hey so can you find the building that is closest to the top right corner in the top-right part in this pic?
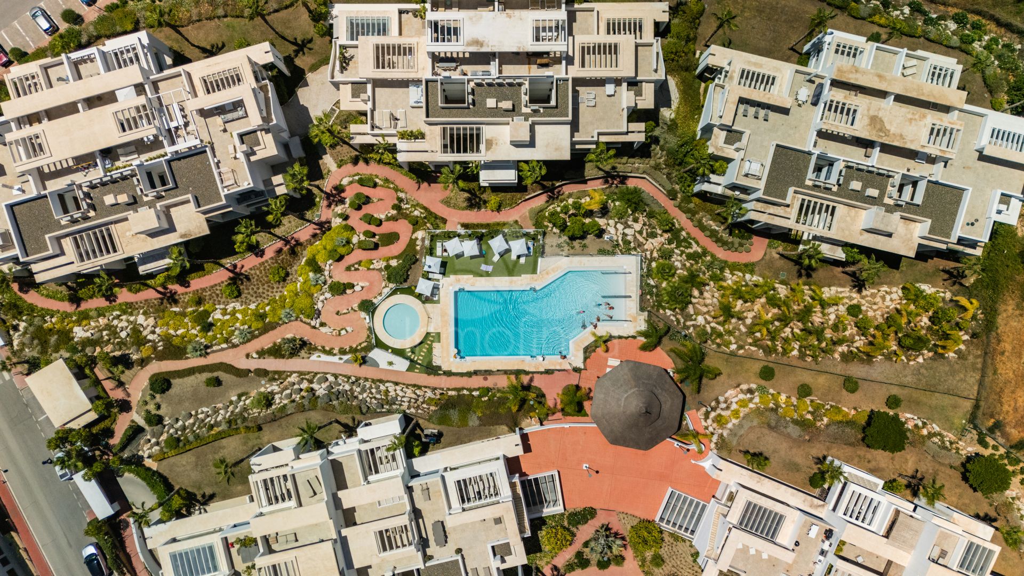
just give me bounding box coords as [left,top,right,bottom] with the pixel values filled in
[688,30,1024,259]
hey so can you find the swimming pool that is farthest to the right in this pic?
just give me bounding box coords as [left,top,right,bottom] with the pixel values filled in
[451,266,629,360]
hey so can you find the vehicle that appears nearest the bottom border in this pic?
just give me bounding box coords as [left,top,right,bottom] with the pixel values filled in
[80,543,110,576]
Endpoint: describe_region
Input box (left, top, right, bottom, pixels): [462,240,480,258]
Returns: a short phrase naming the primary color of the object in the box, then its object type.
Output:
white umbrella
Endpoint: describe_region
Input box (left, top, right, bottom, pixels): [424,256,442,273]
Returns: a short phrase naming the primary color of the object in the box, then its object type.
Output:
white umbrella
